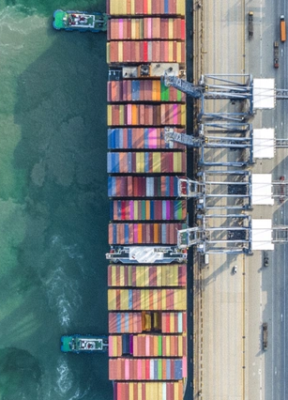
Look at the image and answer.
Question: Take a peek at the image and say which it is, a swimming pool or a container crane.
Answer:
container crane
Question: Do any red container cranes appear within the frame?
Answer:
No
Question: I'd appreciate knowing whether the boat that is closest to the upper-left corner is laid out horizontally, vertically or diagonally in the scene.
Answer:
horizontally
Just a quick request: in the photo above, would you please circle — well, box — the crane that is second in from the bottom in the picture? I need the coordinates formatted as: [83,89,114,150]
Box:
[172,169,288,214]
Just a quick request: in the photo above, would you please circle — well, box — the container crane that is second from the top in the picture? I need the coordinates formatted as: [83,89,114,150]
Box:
[158,124,288,169]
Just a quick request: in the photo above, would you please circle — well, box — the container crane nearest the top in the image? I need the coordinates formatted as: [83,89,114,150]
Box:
[158,70,288,128]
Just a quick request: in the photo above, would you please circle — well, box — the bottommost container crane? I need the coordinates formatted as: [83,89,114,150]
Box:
[170,210,288,254]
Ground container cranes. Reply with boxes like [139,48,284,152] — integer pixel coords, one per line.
[158,124,288,169]
[158,70,288,128]
[170,210,288,254]
[172,169,288,214]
